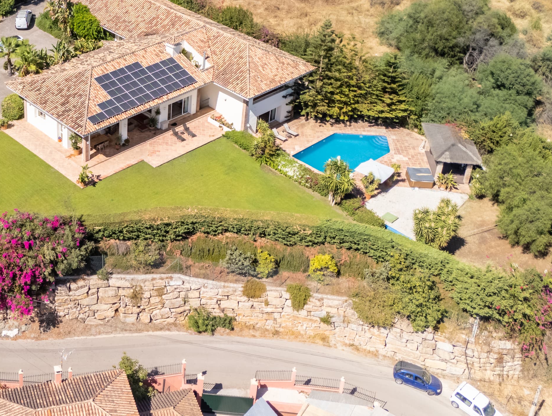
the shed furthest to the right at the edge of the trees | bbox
[416,120,483,189]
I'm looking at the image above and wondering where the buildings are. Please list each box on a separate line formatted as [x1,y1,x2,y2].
[0,362,141,416]
[3,0,317,161]
[416,120,483,189]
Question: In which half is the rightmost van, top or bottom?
bottom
